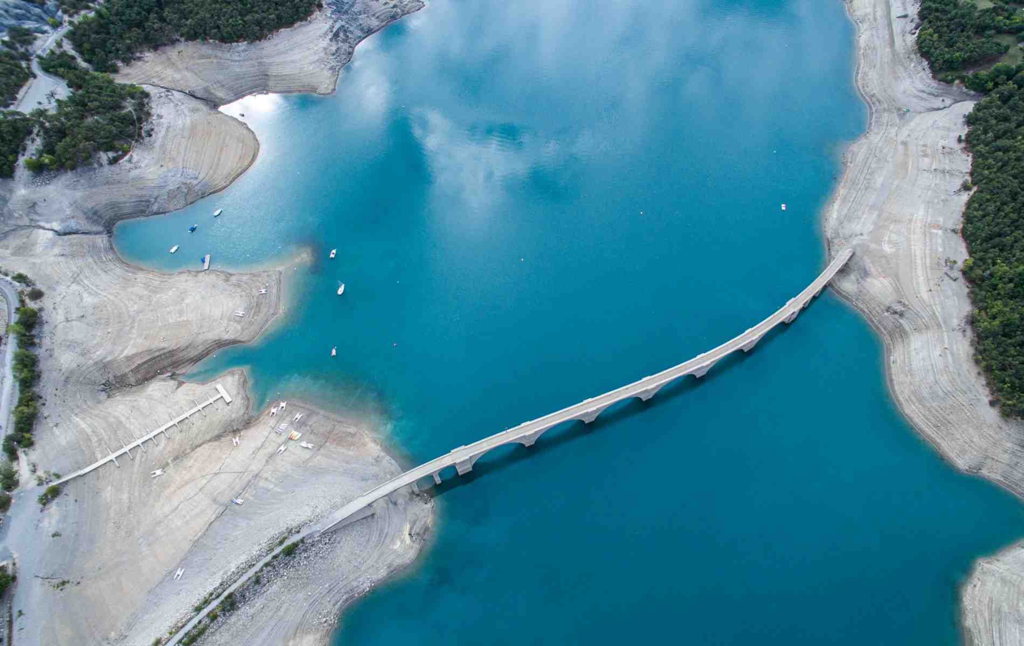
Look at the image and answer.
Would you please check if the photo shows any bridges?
Yes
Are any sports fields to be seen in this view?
No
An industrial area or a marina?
marina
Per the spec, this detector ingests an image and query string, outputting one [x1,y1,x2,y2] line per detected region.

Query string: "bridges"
[317,249,854,533]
